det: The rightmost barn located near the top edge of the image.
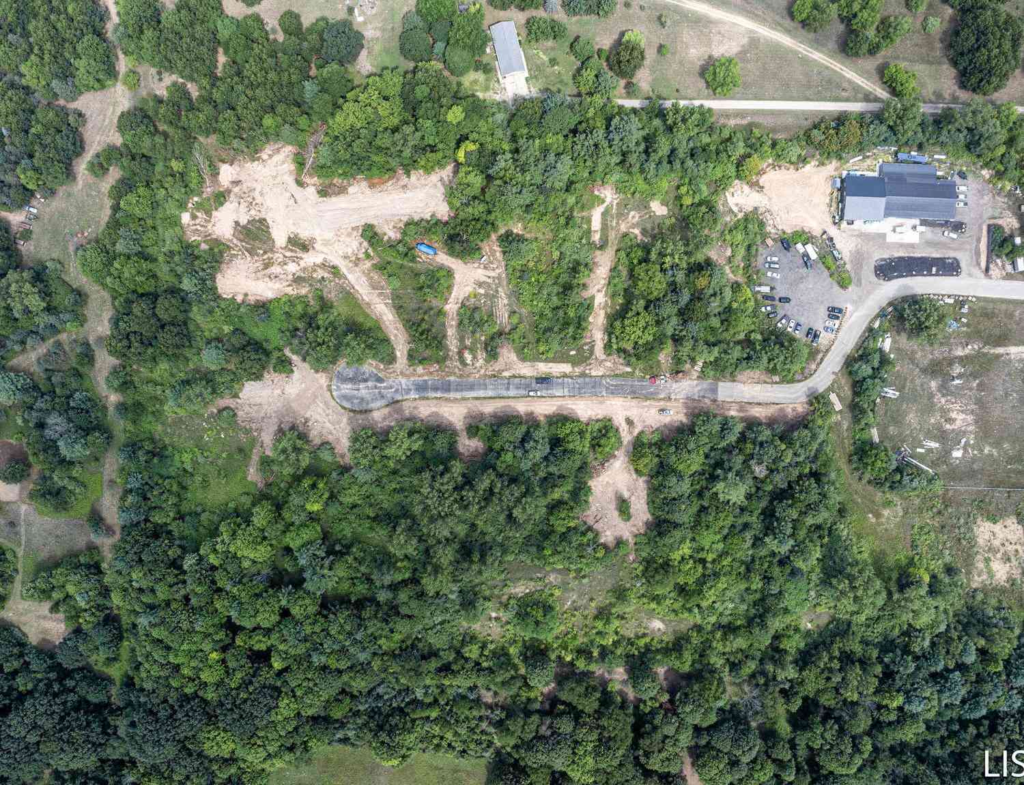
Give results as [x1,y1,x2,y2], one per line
[490,18,528,81]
